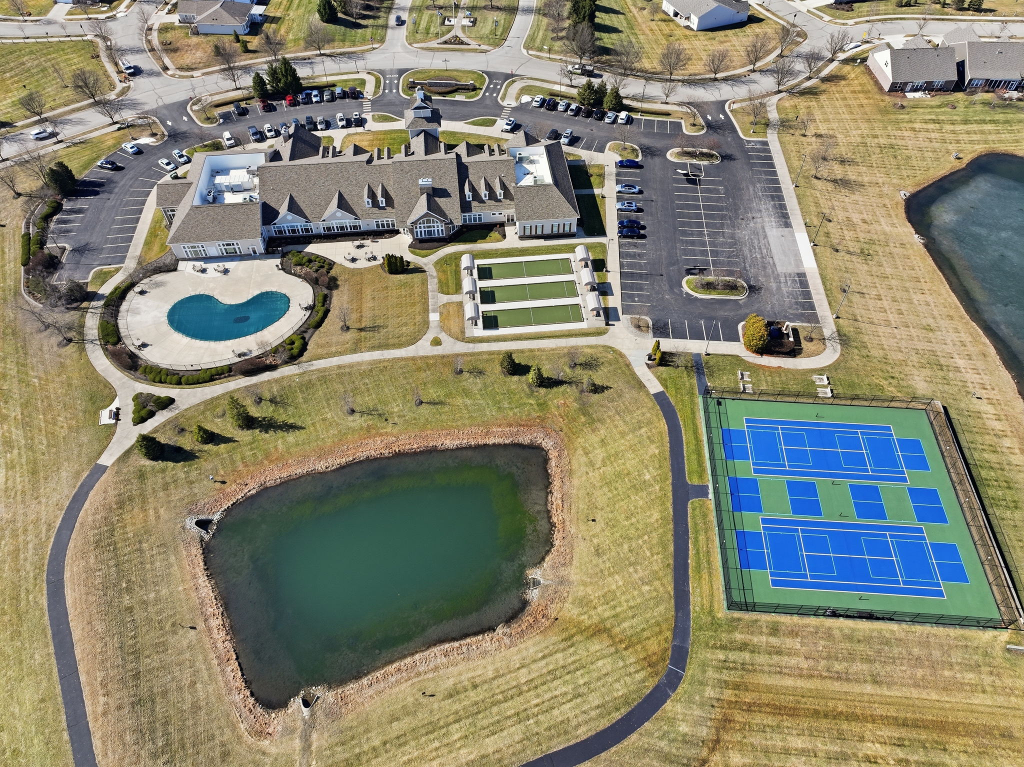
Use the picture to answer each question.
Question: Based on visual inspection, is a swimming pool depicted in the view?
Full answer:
Yes, there's a swimming pool here.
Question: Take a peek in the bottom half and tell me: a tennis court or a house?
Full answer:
It is a tennis court that can be seen in the bottom half.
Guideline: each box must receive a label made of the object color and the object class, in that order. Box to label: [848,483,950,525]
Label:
blue sports court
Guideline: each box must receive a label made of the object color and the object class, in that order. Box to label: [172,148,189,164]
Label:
white car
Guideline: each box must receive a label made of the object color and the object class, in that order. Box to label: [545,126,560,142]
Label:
black car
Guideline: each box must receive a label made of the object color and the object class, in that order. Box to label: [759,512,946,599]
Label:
blue tennis court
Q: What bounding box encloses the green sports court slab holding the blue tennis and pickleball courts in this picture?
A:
[699,396,1005,628]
